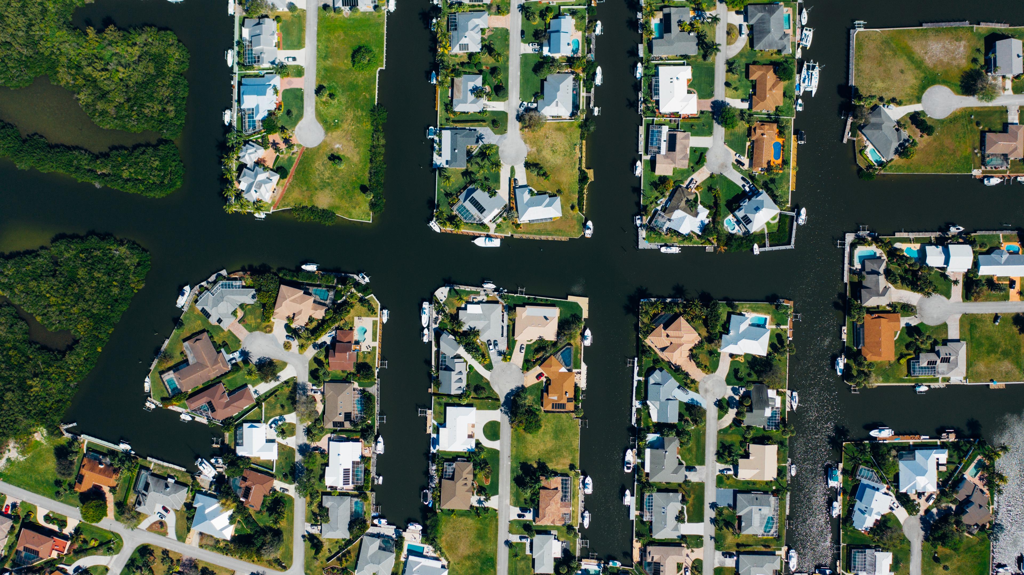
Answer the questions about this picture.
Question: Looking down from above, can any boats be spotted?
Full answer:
Yes, there is a boat in the image.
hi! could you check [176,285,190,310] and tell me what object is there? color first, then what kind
white boat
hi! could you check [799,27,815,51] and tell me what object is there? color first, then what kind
white boat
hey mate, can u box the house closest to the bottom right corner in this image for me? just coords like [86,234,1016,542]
[949,478,994,528]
